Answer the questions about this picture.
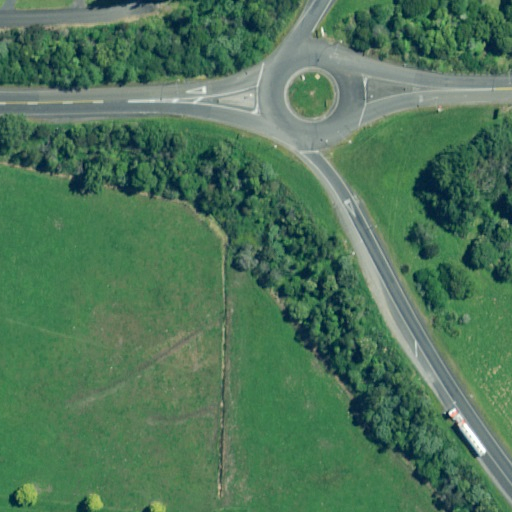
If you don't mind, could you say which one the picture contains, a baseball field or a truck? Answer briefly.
truck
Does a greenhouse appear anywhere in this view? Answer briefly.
No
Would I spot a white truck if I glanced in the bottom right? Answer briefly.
Yes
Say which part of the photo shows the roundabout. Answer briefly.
top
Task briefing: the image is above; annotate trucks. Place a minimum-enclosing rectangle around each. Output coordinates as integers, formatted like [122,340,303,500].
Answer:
[448,408,486,456]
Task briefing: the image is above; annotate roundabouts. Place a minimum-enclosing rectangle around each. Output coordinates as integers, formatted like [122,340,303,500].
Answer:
[206,31,412,153]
